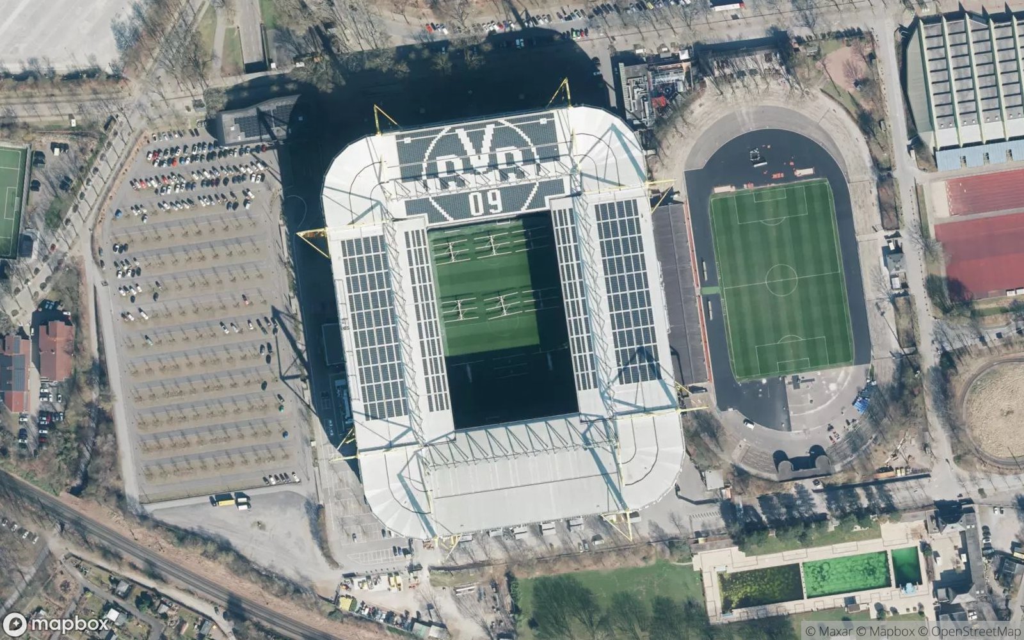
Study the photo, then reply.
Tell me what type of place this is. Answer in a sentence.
The picture captures a sports ground.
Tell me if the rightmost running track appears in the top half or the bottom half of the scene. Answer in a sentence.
It is in the top half that the rightmost running track appears.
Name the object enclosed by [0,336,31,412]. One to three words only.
house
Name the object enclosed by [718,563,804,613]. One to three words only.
swimming pool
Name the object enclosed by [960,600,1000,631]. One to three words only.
building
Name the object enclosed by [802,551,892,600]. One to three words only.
swimming pool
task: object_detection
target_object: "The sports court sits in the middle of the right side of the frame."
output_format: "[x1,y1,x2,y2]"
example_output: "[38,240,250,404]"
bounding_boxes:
[935,212,1024,299]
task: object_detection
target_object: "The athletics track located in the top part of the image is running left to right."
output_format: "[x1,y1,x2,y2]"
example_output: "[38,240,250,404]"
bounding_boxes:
[946,169,1024,216]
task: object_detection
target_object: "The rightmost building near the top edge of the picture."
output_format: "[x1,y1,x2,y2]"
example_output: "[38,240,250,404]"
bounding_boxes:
[907,11,1024,152]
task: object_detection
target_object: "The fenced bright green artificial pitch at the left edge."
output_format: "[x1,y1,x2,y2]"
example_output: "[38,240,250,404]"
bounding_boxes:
[0,142,30,262]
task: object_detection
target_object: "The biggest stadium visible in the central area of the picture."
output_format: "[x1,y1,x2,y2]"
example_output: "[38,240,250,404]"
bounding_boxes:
[297,78,709,566]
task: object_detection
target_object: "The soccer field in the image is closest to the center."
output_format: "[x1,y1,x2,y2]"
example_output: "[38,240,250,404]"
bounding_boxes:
[428,210,578,430]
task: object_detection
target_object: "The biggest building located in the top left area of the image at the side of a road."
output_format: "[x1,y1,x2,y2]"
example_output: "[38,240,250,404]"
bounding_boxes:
[221,95,304,150]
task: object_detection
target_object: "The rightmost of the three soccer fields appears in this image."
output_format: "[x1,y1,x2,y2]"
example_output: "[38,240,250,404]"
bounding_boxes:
[708,179,856,383]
